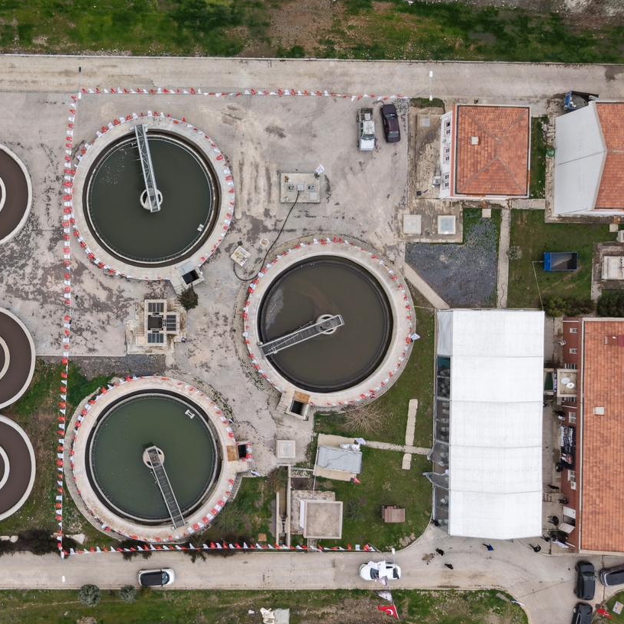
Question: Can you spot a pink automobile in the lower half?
No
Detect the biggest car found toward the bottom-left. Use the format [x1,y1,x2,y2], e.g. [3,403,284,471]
[138,569,175,589]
